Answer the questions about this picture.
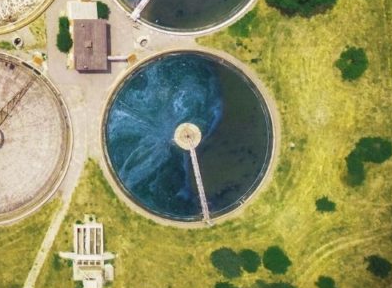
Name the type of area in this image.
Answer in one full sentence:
It's an industrial area.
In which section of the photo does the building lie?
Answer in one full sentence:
The building is in the top left part of the image.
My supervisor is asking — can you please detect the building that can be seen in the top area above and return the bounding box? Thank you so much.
[65,1,128,71]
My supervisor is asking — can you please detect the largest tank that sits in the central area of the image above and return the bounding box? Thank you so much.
[100,46,280,226]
